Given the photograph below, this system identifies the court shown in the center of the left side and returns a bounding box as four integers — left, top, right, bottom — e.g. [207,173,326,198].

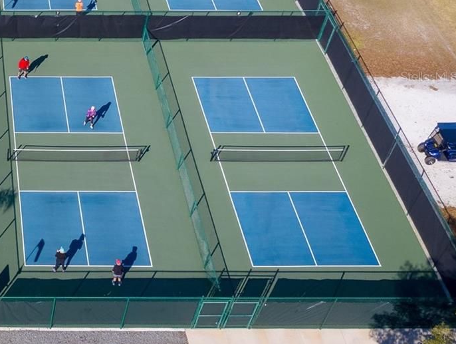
[0,38,220,323]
